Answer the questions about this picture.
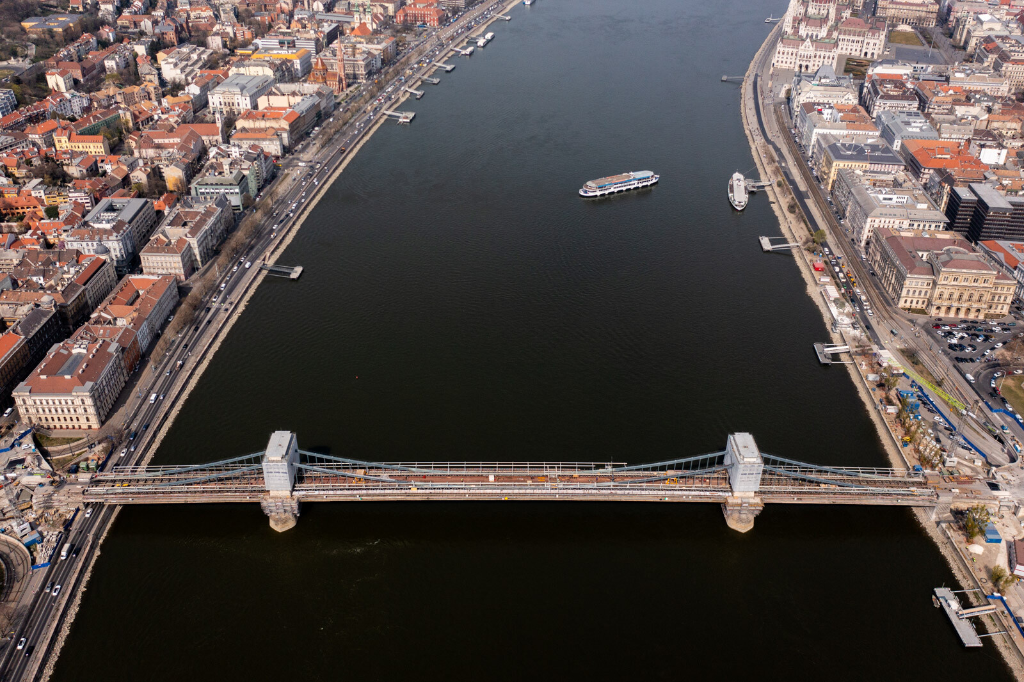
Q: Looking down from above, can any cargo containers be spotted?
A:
Yes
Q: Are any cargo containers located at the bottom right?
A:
Yes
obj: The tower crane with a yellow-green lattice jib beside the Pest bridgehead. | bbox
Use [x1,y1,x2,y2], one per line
[884,354,999,467]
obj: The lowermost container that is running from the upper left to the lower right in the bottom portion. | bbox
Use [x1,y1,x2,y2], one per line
[976,520,1010,545]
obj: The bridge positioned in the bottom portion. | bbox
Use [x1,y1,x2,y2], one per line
[0,431,1024,533]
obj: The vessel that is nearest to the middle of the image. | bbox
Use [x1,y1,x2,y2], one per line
[579,169,659,198]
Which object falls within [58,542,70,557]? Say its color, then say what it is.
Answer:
white vehicle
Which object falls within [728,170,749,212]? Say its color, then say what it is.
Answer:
white ship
